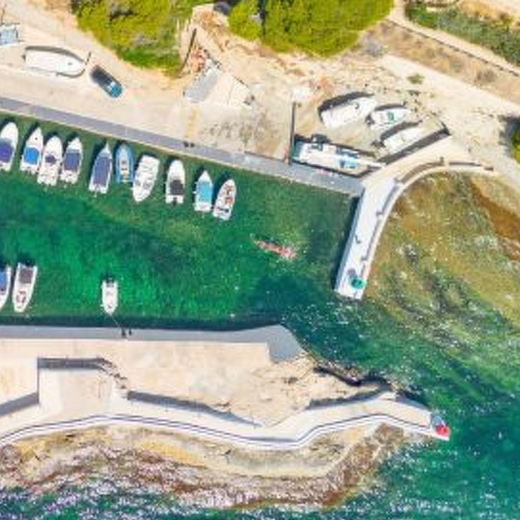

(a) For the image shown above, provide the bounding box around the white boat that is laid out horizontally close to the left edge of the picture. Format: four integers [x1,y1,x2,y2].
[25,48,84,76]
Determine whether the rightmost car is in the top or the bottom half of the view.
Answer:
top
